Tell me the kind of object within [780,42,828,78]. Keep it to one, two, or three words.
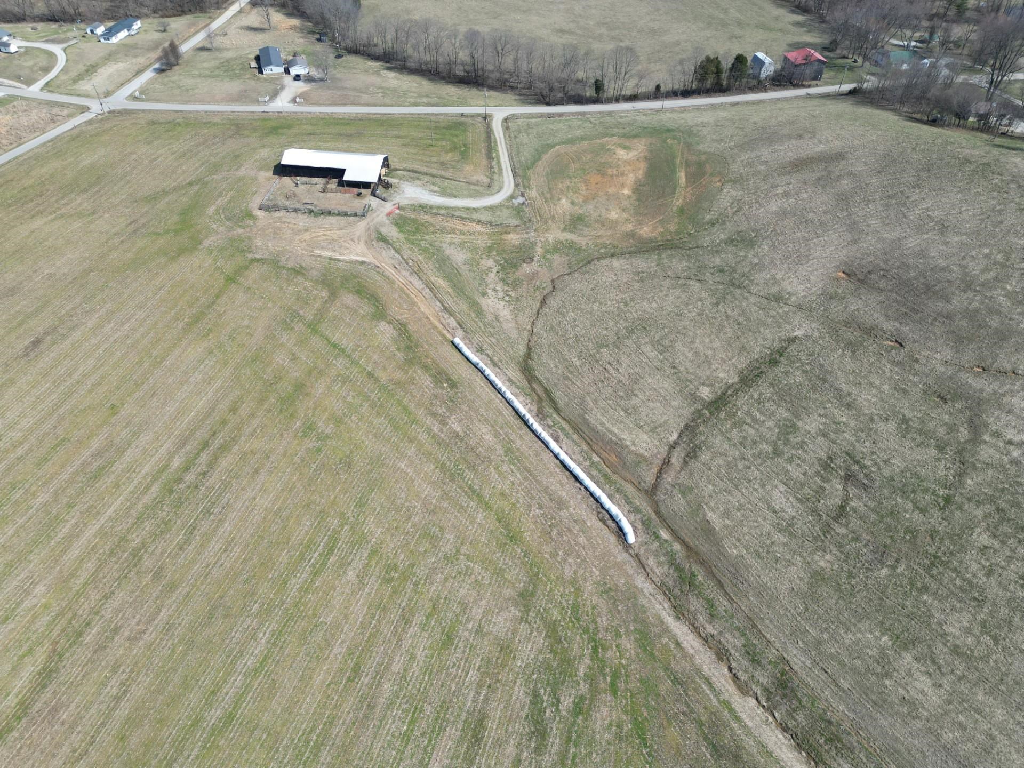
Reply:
barn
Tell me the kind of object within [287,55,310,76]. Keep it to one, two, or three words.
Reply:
building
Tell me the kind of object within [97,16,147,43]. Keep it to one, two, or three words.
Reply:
house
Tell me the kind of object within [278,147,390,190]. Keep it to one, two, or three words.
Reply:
barn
